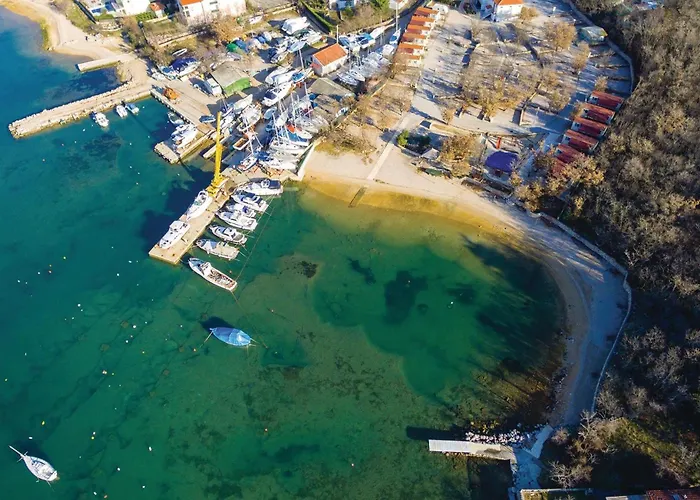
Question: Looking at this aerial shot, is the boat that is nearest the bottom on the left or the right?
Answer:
left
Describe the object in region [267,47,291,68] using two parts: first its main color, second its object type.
white boat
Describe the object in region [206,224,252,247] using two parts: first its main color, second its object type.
white boat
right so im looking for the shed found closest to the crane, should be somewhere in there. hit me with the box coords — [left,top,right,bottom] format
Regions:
[211,62,251,97]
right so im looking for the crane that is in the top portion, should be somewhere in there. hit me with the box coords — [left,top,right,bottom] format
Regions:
[199,107,232,200]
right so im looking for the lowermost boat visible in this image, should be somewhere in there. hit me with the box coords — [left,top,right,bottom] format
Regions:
[14,450,65,484]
